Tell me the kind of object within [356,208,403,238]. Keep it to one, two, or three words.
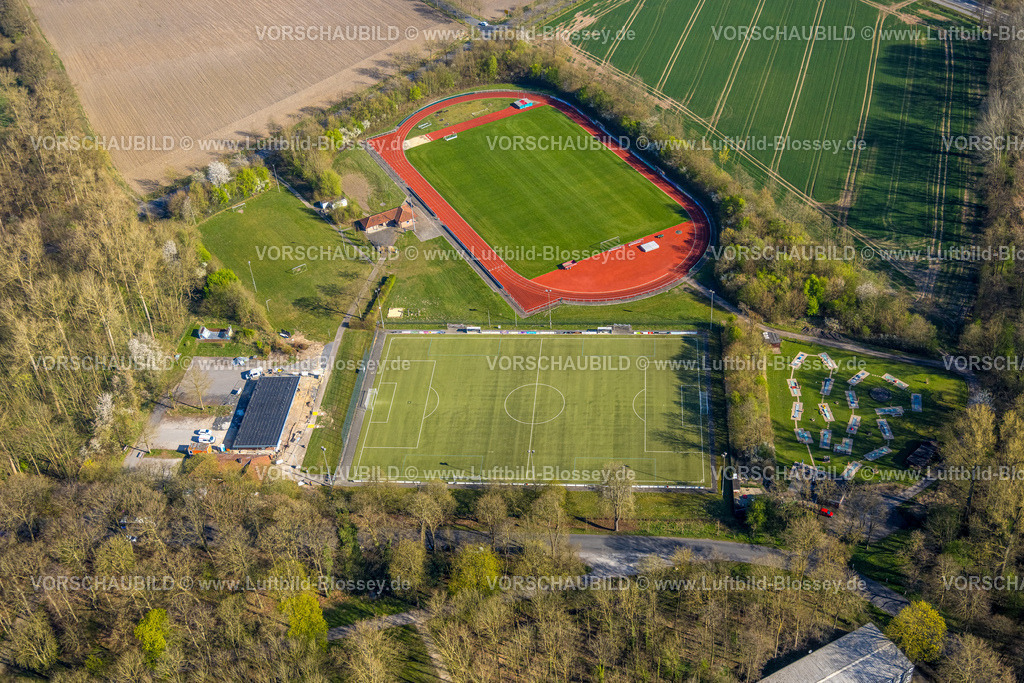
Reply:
building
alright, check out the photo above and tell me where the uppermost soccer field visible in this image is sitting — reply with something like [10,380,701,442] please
[404,96,696,292]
